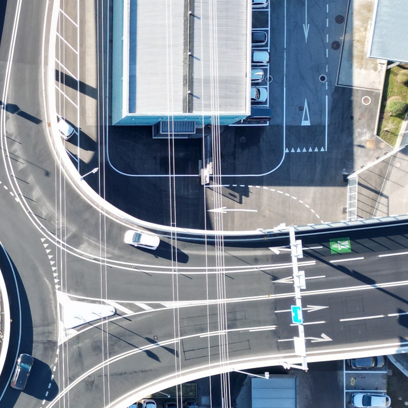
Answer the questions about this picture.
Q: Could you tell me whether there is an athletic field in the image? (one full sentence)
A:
No, there appears to be no athletic field in this shot.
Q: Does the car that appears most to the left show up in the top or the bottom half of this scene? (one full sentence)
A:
The car that appears most to the left sits in the bottom half of the picture.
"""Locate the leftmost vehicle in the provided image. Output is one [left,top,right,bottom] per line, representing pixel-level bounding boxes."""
[12,353,33,390]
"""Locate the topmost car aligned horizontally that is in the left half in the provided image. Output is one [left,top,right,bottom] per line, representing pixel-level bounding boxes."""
[120,229,161,249]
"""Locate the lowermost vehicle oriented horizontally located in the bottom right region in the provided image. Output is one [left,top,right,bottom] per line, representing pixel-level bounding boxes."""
[351,391,389,408]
